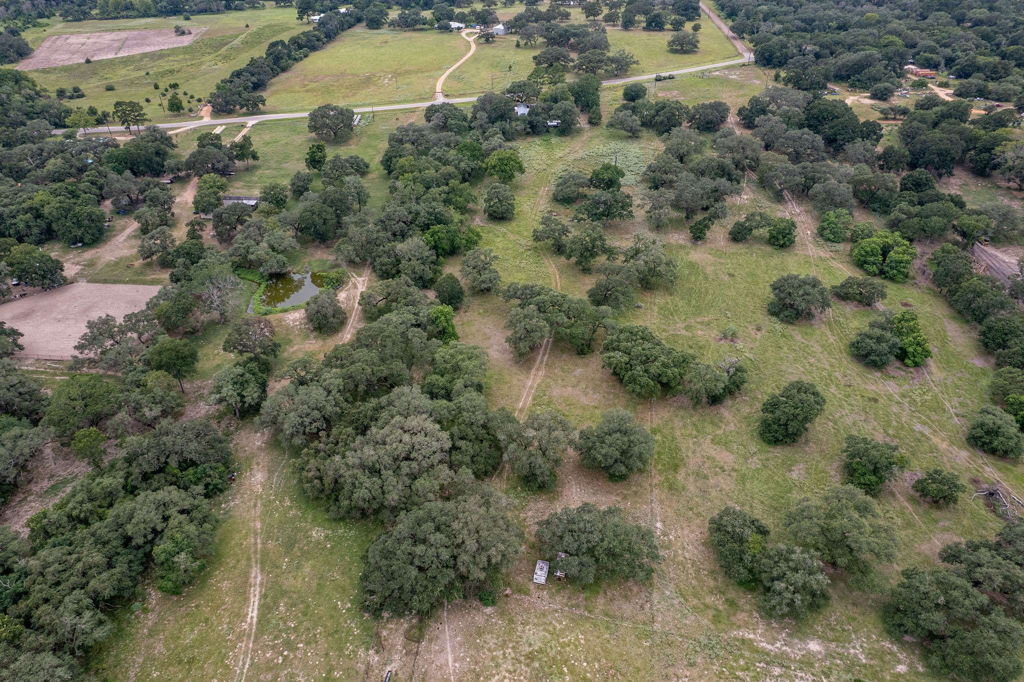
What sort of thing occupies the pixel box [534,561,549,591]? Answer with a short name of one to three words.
vehicle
